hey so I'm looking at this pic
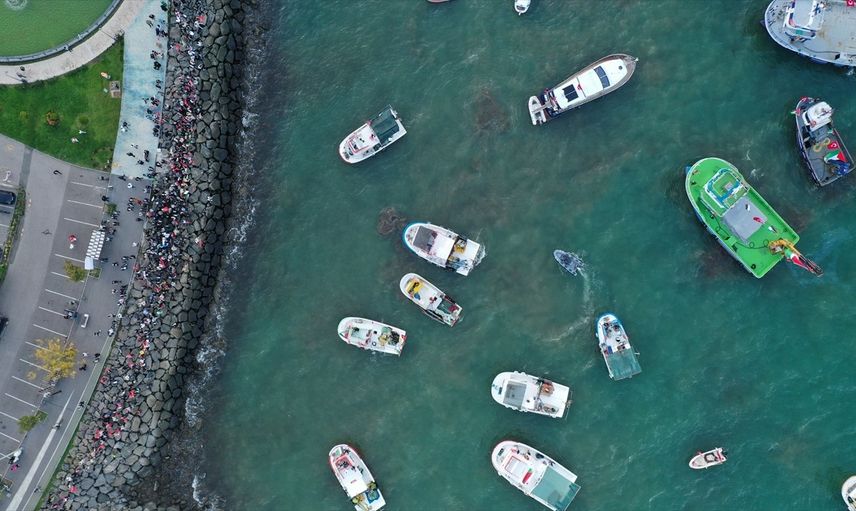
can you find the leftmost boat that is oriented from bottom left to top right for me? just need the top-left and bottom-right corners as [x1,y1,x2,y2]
[339,105,407,160]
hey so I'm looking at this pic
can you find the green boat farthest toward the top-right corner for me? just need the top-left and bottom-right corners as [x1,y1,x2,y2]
[680,158,824,278]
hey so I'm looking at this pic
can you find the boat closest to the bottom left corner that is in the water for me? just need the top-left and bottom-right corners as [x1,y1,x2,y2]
[329,444,385,511]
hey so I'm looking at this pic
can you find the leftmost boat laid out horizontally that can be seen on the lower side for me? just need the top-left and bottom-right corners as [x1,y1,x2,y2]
[338,319,407,357]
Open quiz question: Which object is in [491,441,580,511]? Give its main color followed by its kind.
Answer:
white boat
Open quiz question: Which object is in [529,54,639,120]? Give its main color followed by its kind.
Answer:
white boat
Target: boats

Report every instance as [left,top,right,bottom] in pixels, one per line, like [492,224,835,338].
[596,314,641,381]
[529,54,639,120]
[329,444,385,511]
[553,250,583,275]
[687,447,729,469]
[514,0,531,17]
[759,0,856,73]
[680,158,824,278]
[338,319,407,357]
[836,474,856,511]
[402,222,480,276]
[491,441,580,511]
[791,95,853,183]
[492,370,571,418]
[339,105,407,160]
[400,274,464,327]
